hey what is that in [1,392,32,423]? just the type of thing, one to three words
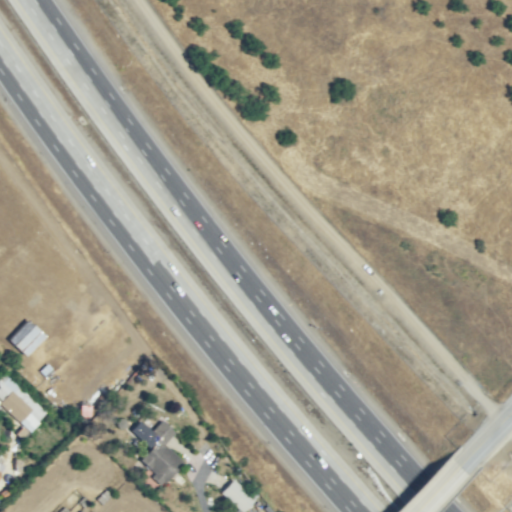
house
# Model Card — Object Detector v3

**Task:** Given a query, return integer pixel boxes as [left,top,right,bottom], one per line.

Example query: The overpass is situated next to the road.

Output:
[401,457,475,512]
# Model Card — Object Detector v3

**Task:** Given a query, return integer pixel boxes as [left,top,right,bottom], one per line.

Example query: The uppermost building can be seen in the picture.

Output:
[12,321,46,356]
